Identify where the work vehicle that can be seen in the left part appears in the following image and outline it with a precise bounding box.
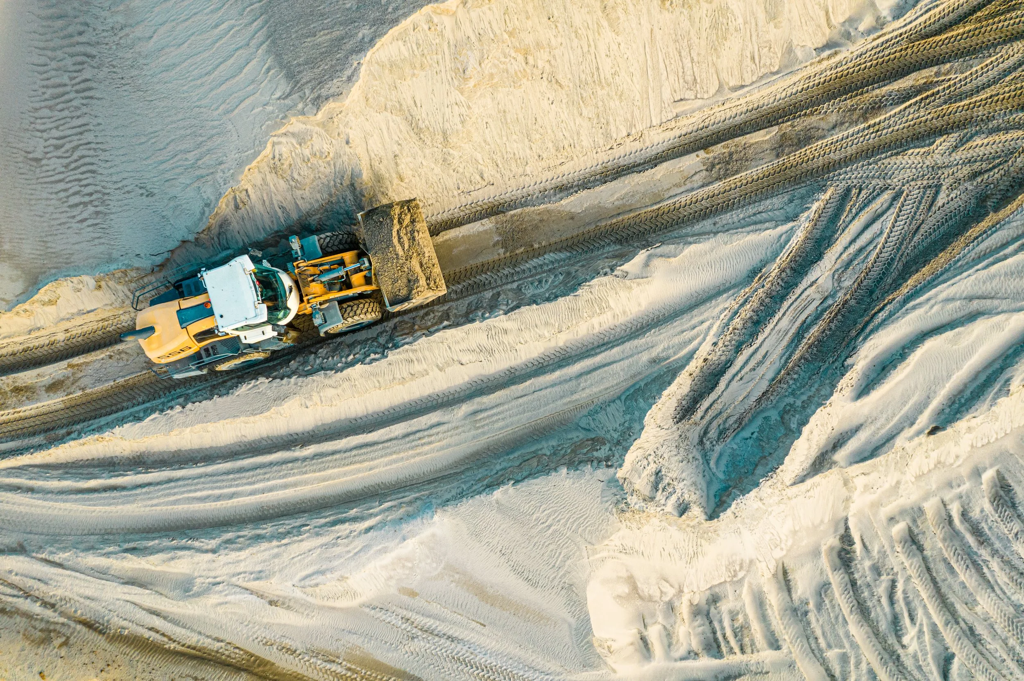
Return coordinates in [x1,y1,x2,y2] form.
[121,200,447,379]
